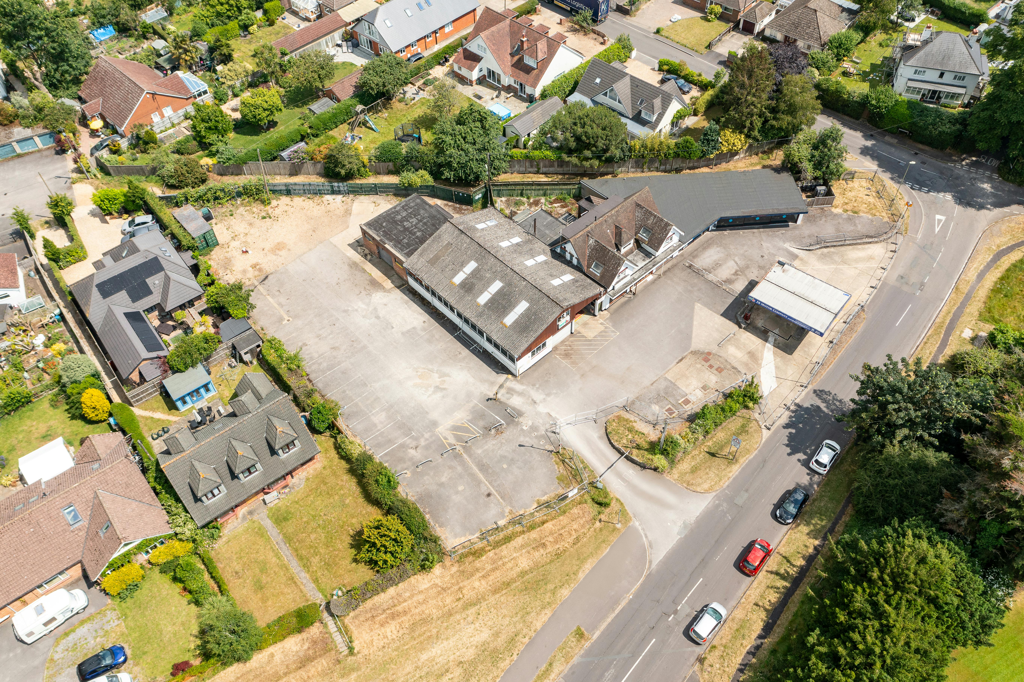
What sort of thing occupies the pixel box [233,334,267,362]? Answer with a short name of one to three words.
shed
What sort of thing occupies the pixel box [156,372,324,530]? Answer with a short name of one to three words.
house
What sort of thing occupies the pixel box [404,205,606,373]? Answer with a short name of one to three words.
building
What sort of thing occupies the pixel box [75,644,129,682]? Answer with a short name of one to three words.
car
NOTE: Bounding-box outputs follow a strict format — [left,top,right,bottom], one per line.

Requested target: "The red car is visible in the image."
[739,538,771,578]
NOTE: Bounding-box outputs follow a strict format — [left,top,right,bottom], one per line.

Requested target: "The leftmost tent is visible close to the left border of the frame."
[18,442,76,488]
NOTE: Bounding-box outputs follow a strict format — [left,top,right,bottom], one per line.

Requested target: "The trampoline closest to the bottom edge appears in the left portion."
[393,119,421,145]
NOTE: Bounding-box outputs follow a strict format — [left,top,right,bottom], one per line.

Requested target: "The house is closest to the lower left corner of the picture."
[0,431,175,623]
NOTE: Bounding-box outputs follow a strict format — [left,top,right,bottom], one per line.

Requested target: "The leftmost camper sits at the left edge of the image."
[14,592,91,641]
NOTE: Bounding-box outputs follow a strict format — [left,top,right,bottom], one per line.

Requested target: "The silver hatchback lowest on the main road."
[689,601,727,647]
